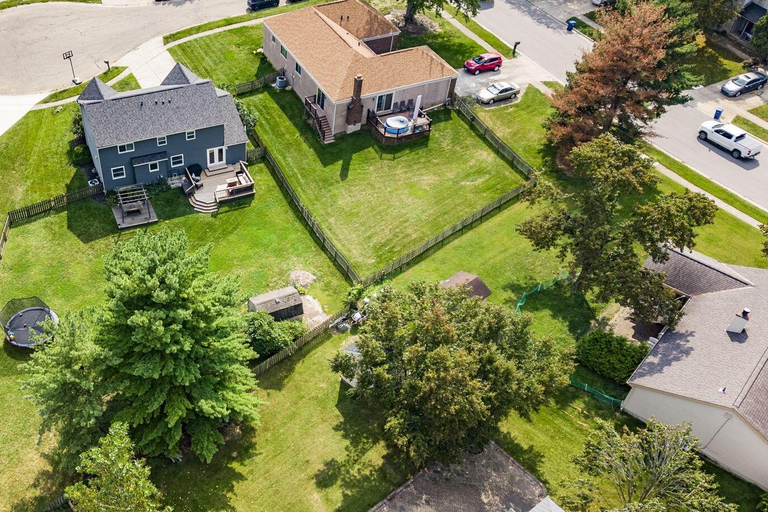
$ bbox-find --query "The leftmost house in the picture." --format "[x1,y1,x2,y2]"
[74,62,249,193]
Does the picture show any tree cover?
Yes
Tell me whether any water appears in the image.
No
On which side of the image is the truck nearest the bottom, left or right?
right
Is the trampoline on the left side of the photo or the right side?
left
